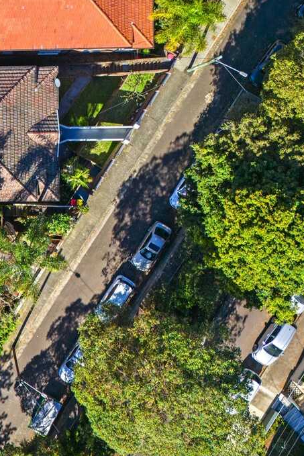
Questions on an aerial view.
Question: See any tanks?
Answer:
No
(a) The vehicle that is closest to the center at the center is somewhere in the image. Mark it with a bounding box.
[131,217,173,274]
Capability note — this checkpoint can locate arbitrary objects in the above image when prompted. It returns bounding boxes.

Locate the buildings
[0,0,153,54]
[0,65,64,204]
